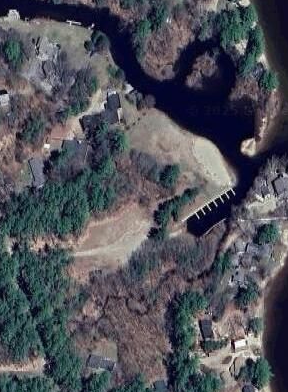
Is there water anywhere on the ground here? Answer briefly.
Yes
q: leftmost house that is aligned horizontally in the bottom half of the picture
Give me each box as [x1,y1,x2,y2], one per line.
[86,355,115,373]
